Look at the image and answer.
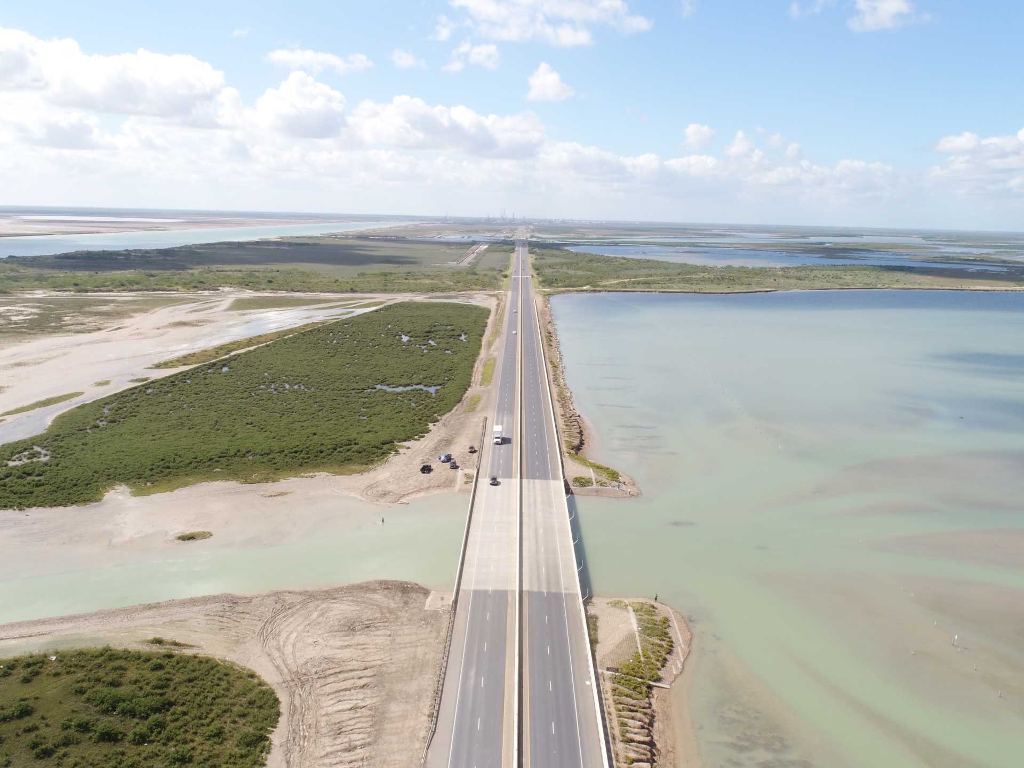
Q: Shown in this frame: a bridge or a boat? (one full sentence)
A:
This aerial view contains a bridge.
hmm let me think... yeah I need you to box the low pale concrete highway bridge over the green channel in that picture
[451,475,585,601]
